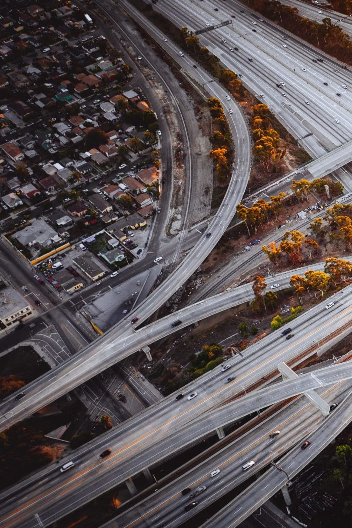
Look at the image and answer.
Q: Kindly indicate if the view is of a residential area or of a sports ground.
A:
residential area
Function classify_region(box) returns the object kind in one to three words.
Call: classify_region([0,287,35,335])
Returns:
building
